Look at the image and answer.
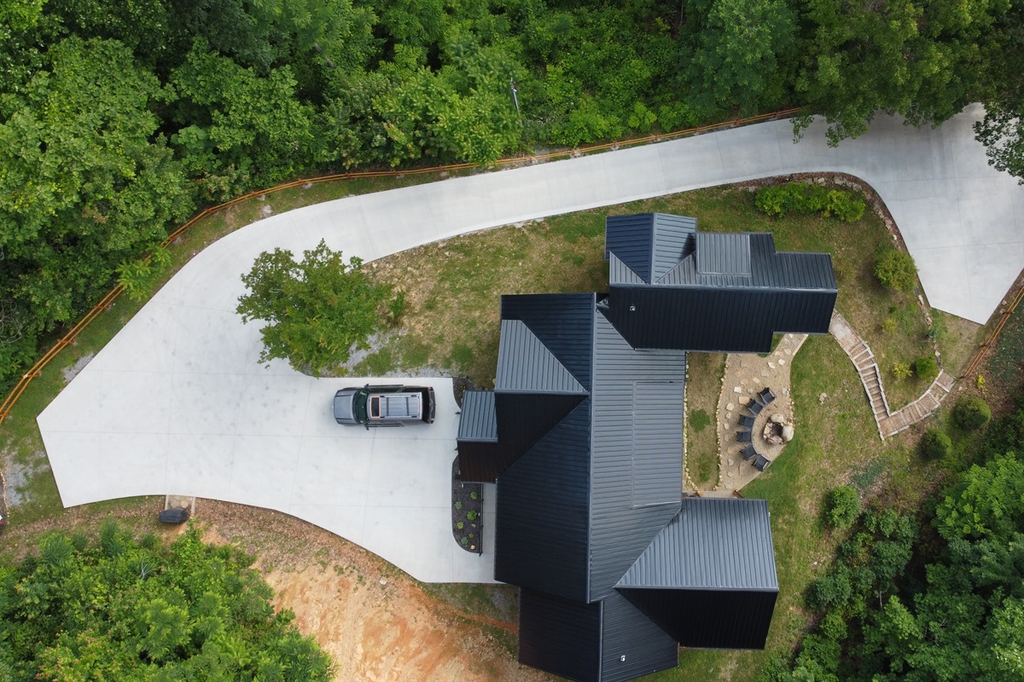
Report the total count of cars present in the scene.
1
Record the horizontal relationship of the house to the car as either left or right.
on its right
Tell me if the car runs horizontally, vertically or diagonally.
horizontally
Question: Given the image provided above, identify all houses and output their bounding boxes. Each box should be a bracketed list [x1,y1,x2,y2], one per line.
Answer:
[454,212,839,682]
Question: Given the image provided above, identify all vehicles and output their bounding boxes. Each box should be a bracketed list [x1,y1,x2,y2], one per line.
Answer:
[333,383,437,428]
